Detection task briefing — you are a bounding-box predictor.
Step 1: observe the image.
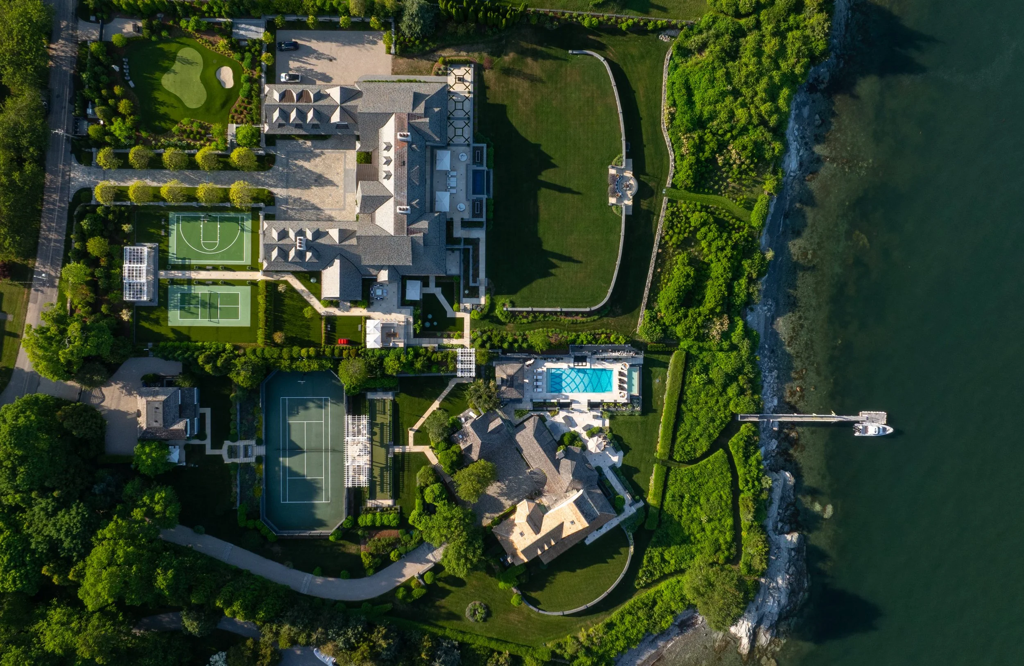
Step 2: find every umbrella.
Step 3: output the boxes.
[436,192,450,212]
[367,334,381,348]
[170,446,182,464]
[587,437,603,453]
[407,280,421,300]
[367,320,381,334]
[437,151,450,170]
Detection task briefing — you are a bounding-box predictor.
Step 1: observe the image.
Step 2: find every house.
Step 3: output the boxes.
[137,387,201,439]
[263,82,447,300]
[450,407,617,578]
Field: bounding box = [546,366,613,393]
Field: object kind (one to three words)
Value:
swimming pool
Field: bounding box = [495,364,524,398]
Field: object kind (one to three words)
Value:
building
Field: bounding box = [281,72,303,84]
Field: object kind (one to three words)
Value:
vehicle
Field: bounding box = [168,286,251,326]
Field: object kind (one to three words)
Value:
sports court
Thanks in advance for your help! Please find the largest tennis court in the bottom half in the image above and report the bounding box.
[265,370,344,532]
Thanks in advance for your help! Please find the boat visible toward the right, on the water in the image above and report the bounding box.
[851,423,895,436]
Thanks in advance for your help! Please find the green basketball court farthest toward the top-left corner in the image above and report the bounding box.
[169,212,251,265]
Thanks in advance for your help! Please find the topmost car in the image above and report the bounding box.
[277,40,300,52]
